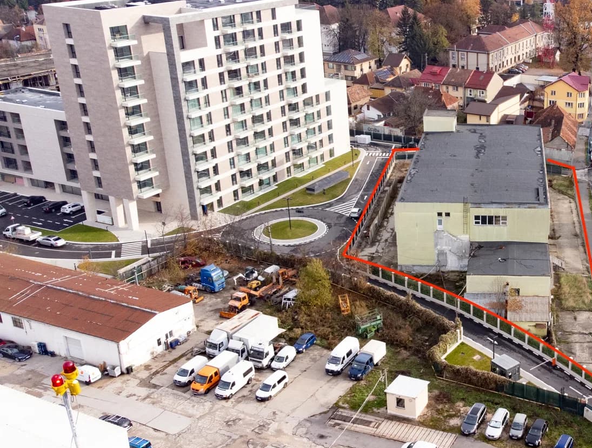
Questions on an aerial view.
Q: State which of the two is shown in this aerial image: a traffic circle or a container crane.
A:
traffic circle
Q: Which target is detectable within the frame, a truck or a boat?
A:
truck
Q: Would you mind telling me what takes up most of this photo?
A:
buildings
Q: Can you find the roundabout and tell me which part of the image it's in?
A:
center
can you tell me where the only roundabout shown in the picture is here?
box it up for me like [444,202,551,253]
[200,201,373,266]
